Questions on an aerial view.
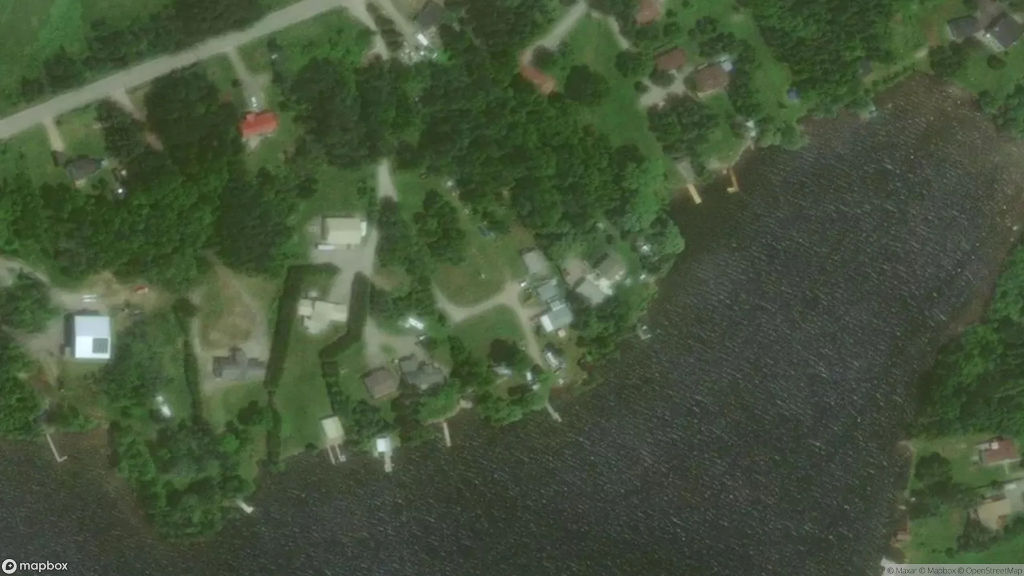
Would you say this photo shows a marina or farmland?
marina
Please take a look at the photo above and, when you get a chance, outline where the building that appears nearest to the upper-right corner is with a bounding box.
[982,11,1024,53]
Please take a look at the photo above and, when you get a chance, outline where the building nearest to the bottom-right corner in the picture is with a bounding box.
[976,494,1013,530]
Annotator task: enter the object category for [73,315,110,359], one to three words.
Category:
barn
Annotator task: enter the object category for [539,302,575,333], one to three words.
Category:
building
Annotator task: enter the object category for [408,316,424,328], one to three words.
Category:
vehicle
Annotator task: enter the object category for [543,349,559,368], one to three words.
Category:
vehicle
